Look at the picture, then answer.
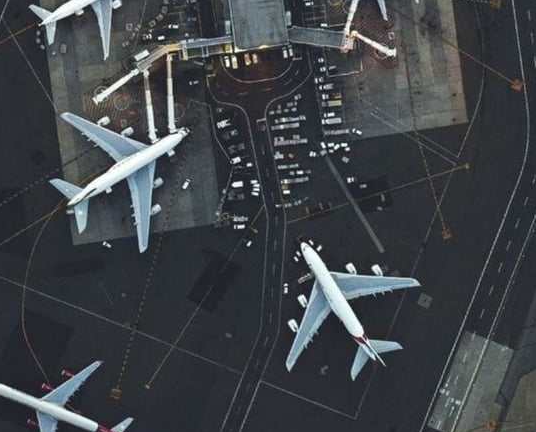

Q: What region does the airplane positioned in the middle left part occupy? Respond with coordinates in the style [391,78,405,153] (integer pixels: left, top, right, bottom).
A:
[50,114,187,256]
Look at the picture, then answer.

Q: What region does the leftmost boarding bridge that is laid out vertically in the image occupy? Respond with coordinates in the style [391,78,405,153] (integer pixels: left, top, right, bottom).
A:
[142,69,157,144]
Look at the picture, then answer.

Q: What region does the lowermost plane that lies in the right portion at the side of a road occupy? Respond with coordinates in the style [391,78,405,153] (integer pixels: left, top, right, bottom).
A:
[286,243,429,379]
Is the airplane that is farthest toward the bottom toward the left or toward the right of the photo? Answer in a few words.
left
